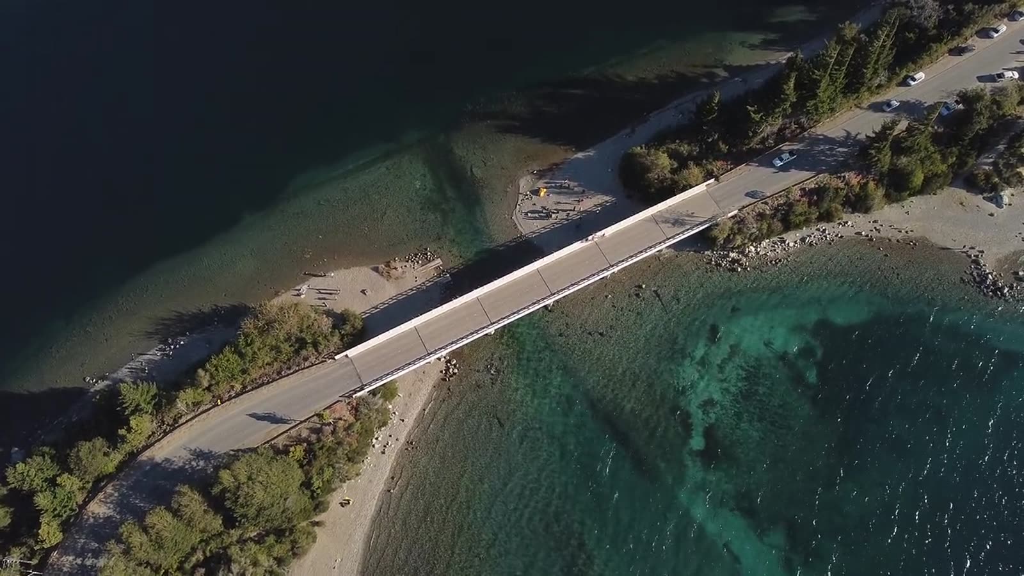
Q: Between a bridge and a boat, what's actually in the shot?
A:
bridge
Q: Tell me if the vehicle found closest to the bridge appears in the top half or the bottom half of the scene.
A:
top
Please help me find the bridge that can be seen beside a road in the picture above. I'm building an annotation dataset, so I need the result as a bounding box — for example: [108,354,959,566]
[332,175,743,394]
